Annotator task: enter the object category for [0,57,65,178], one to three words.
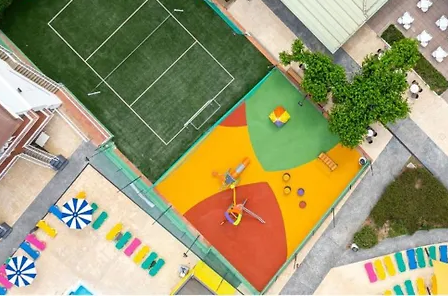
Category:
building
